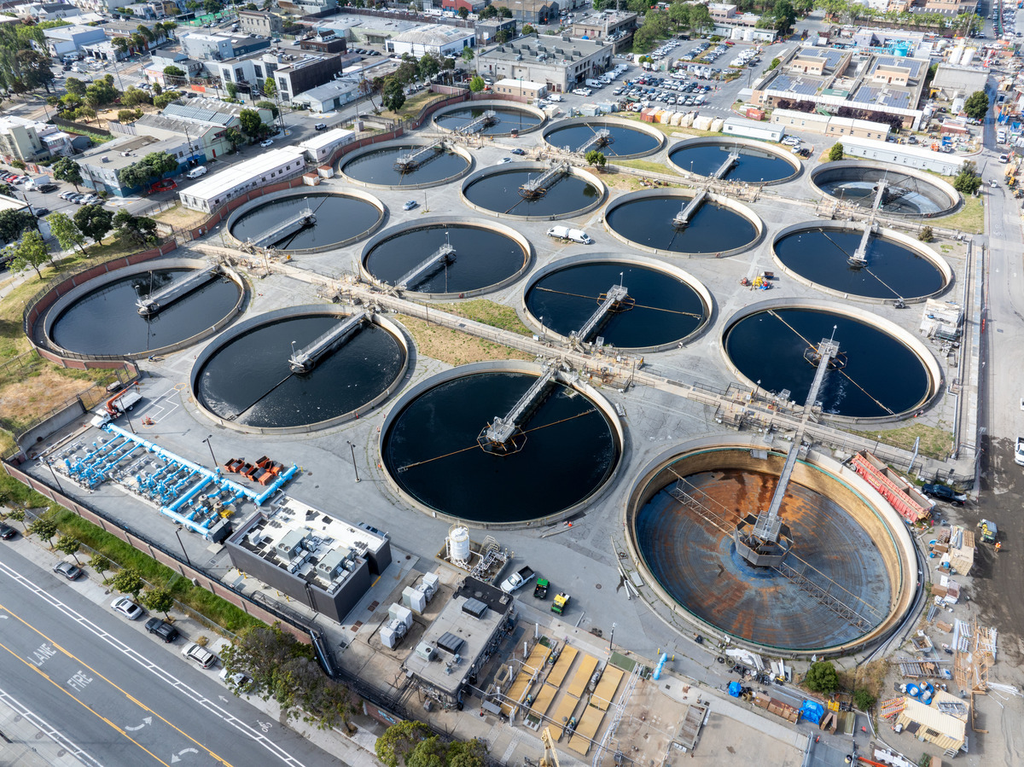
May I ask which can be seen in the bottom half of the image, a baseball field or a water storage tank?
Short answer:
water storage tank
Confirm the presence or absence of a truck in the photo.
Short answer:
Yes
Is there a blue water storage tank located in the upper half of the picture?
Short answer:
Yes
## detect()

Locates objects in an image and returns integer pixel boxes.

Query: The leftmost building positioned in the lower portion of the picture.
[224,491,390,624]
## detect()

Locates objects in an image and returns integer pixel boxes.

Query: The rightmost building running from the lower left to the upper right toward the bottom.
[389,577,515,722]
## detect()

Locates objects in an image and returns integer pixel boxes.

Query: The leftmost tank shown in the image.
[43,256,250,364]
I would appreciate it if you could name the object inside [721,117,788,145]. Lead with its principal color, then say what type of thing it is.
white trailer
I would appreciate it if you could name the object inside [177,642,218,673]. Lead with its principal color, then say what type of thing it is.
white car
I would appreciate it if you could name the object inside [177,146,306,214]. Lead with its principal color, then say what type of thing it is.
white trailer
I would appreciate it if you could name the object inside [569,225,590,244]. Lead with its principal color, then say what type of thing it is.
white vehicle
